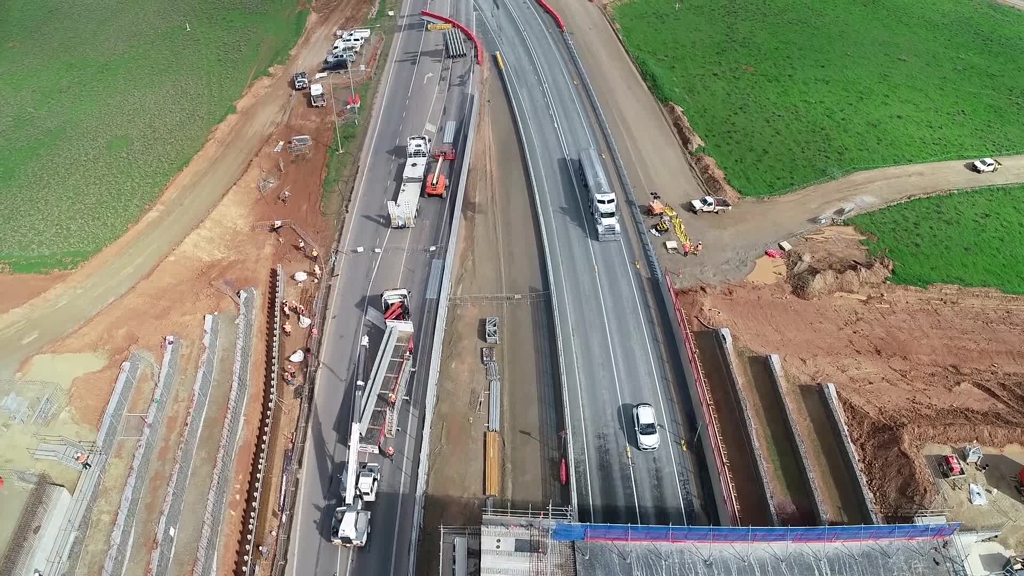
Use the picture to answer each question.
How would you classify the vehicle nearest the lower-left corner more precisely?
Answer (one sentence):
In the photo, the vehicle nearest the lower-left corner shows up as a truck.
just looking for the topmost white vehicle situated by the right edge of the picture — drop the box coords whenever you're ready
[971,153,1009,173]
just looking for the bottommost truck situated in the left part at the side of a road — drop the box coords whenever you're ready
[349,279,416,449]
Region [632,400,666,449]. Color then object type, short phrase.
white car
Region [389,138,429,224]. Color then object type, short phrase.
white vehicle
